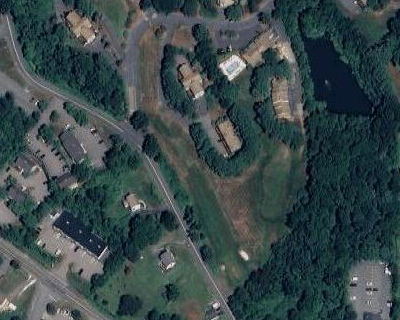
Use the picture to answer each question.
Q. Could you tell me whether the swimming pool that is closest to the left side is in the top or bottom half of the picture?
top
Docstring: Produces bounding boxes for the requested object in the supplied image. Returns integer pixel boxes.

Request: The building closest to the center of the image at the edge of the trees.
[214,118,241,154]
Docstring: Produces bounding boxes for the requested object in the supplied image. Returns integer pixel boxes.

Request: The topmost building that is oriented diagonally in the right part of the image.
[239,23,286,63]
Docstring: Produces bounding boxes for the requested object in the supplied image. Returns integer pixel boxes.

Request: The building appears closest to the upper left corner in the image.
[64,7,99,46]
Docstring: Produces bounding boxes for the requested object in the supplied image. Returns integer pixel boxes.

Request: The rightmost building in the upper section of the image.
[270,75,292,119]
